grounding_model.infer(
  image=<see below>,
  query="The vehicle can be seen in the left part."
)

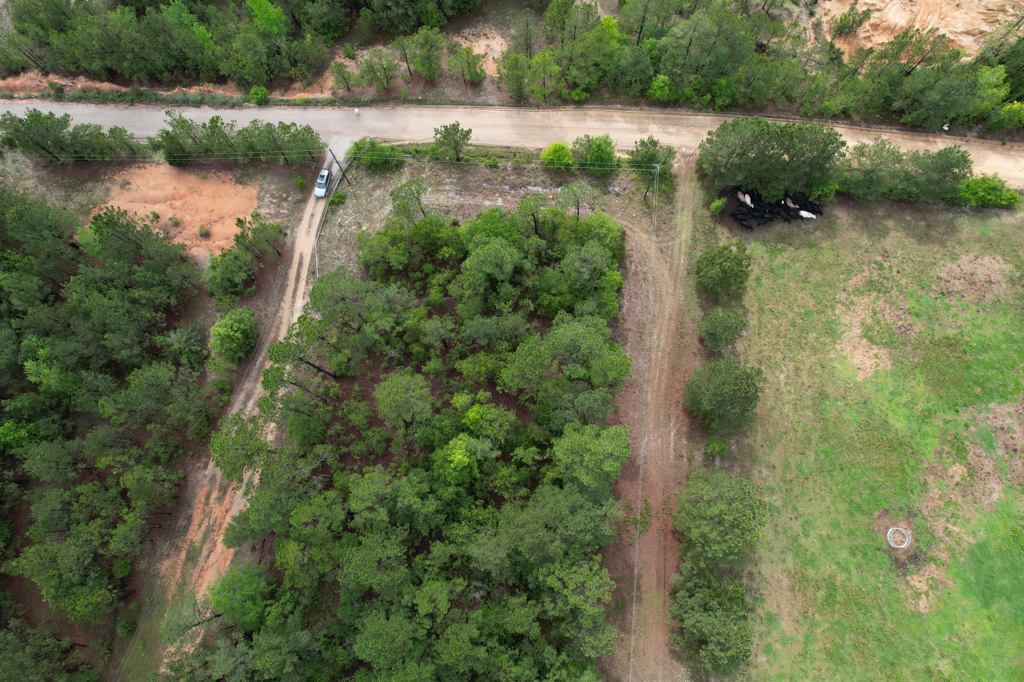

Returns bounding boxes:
[314,168,332,199]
